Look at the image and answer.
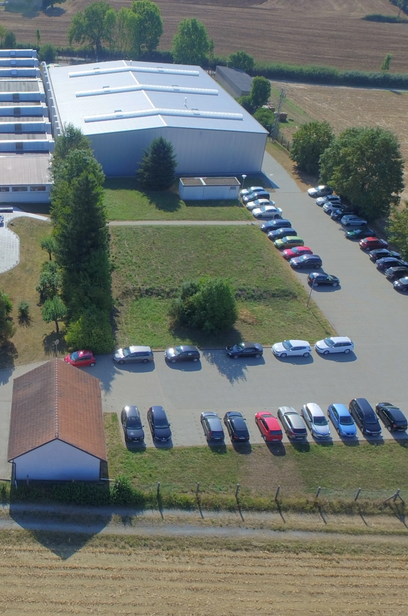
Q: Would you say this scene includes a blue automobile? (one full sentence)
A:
Yes, there is a blue automobile in the image.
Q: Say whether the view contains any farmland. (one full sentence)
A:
Yes, farmland can be seen from above here.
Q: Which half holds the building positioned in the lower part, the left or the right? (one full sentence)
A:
The building positioned in the lower part is on the left side of the image.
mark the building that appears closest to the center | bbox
[179,176,242,200]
